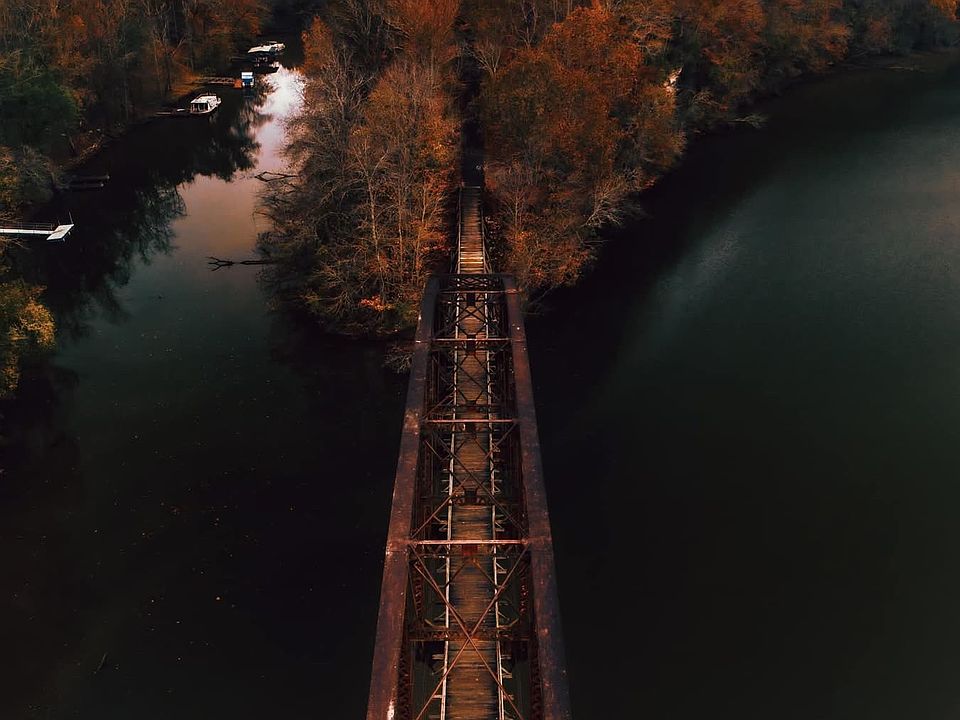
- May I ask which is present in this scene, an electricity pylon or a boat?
boat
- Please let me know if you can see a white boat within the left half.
Yes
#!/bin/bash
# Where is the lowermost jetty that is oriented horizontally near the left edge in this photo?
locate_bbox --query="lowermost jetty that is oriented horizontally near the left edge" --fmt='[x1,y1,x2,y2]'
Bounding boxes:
[0,204,82,240]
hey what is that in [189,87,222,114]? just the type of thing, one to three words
boat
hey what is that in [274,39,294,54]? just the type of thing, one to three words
boat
